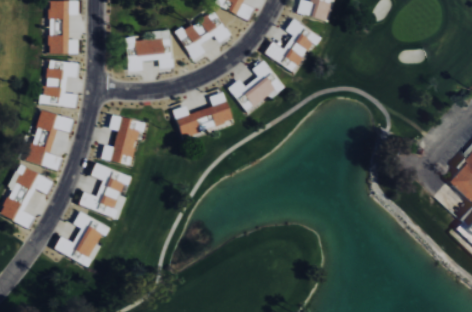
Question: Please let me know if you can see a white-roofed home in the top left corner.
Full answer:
Yes, I can see a white-roofed home in the top left corner.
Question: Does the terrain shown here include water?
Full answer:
Yes, there is water in the image.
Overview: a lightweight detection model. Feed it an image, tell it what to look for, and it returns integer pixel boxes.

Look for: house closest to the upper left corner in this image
[48,0,80,55]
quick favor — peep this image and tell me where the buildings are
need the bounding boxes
[125,30,174,75]
[0,164,54,229]
[48,0,80,55]
[78,163,132,220]
[100,115,146,166]
[448,144,472,243]
[174,12,231,63]
[227,60,285,115]
[172,92,232,137]
[54,212,110,267]
[215,0,254,21]
[38,60,80,108]
[264,18,322,74]
[24,110,74,171]
[296,0,334,22]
